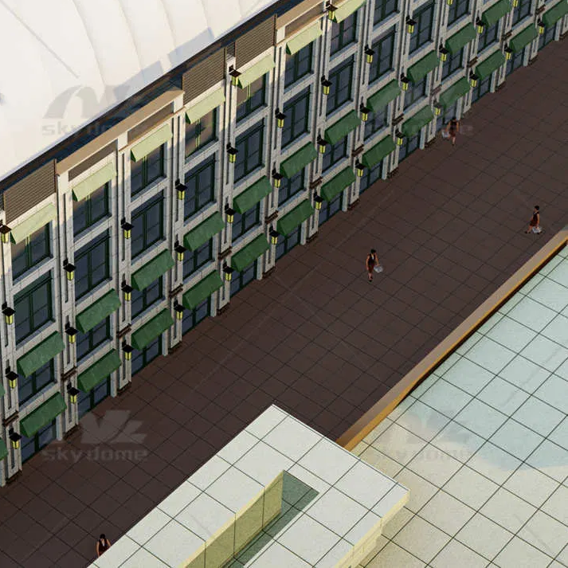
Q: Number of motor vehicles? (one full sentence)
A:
Not a single motor vehicle can be seen.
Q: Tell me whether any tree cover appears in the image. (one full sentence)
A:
No, the scene doesn't show any tree cover.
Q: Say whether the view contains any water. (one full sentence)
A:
No, the scene doesn't show any water.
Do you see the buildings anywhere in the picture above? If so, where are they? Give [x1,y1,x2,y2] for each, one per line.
[90,232,568,568]
[0,0,568,479]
